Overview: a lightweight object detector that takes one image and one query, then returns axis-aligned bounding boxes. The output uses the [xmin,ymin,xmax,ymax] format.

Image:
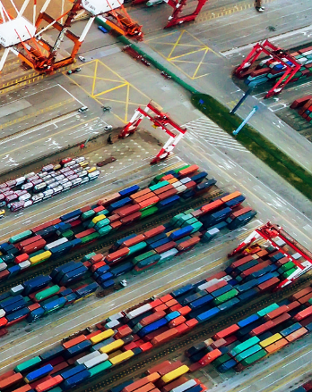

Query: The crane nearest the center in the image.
[121,102,188,164]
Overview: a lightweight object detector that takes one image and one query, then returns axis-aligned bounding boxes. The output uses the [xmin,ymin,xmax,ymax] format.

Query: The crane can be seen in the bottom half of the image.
[229,222,312,296]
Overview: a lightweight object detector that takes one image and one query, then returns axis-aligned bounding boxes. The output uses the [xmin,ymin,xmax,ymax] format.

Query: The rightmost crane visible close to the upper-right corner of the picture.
[235,40,303,97]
